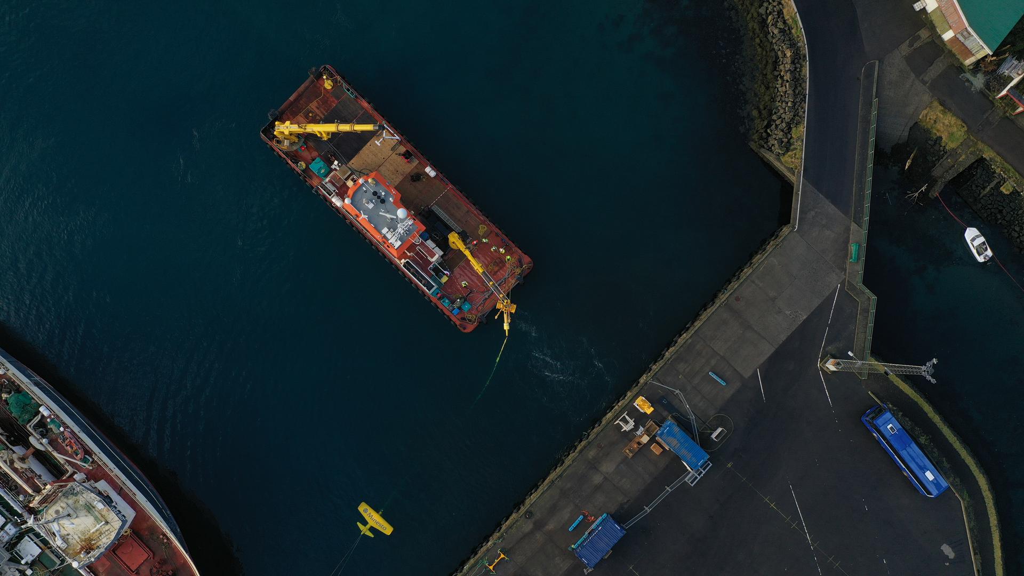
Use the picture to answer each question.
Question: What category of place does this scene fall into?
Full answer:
This looks like a port.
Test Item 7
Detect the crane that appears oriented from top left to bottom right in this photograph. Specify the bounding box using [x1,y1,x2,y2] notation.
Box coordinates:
[445,232,517,335]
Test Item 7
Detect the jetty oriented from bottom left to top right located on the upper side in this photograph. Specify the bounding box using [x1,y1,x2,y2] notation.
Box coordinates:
[923,137,980,202]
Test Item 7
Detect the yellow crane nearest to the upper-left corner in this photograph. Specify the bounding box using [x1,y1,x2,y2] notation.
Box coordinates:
[271,119,386,151]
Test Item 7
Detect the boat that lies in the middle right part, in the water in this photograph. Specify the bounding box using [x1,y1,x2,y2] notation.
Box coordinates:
[966,227,991,262]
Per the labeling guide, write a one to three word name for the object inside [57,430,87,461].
boat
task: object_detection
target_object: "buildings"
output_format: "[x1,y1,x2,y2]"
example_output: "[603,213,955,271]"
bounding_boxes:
[988,68,1024,116]
[925,0,1024,66]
